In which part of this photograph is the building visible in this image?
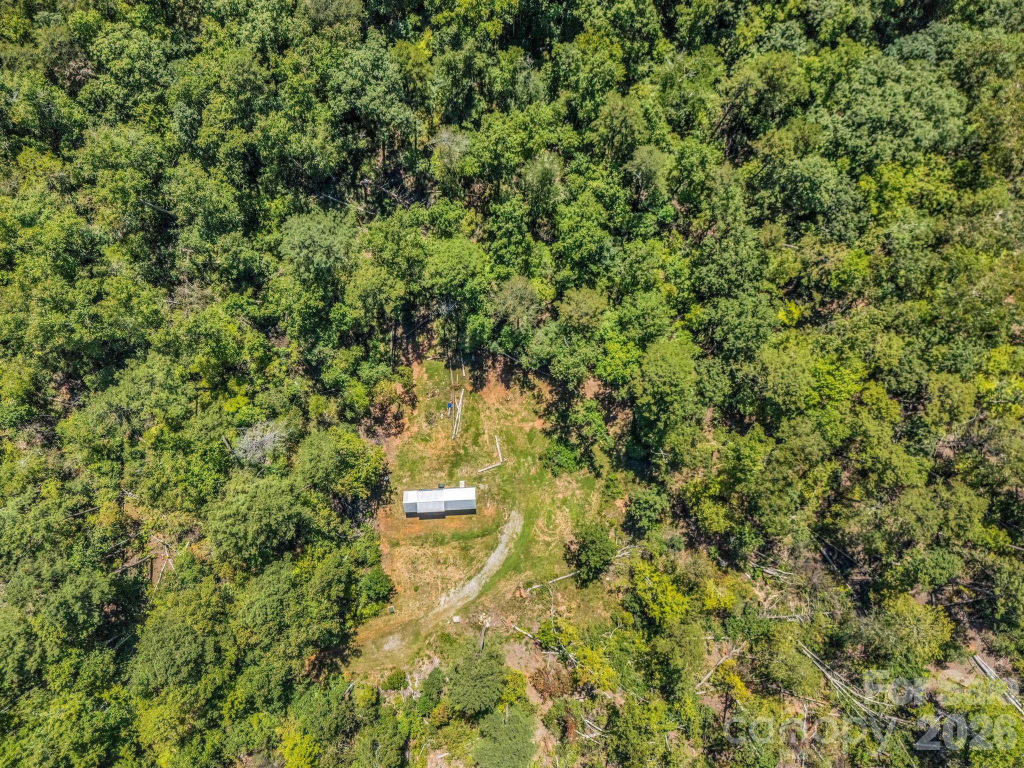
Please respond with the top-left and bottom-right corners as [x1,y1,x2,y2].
[403,487,477,514]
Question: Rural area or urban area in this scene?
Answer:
rural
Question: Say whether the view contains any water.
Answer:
No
